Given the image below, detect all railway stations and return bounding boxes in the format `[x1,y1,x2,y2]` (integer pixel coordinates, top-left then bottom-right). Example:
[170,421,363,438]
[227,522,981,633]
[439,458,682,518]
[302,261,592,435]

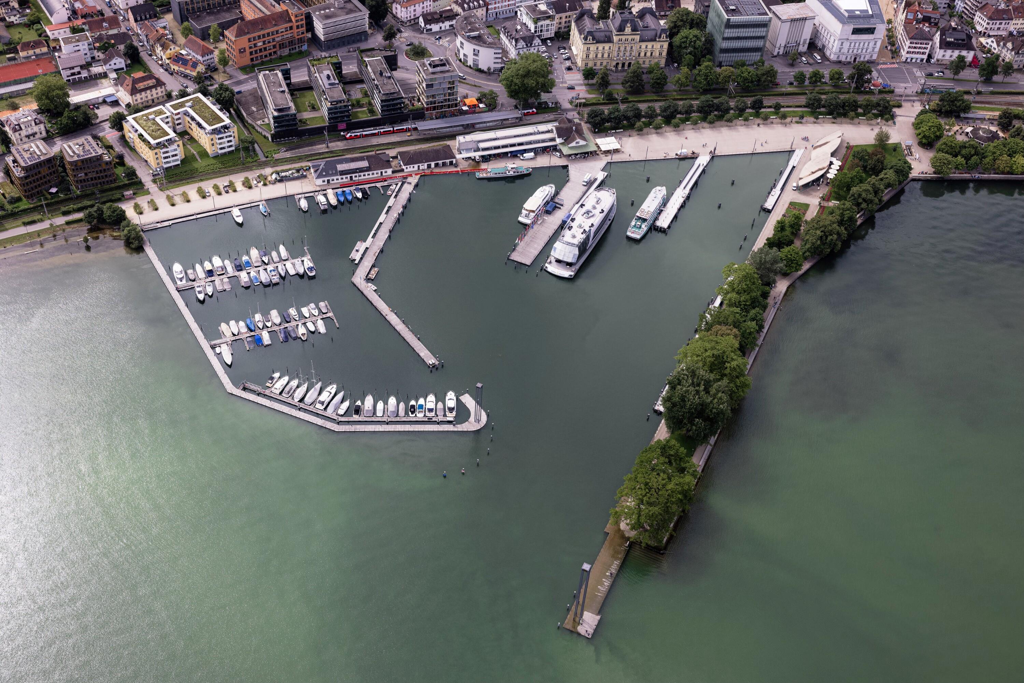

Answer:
[273,108,555,160]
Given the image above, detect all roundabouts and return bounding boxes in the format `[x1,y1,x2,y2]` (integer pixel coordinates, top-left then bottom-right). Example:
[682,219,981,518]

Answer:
[389,37,449,69]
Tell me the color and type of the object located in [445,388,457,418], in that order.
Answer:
white boat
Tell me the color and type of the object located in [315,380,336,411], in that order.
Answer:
white boat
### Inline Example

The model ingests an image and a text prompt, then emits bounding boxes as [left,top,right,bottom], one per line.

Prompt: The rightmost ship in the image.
[628,186,665,240]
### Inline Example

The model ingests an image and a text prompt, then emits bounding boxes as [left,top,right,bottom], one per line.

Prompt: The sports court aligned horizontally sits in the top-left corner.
[0,45,59,83]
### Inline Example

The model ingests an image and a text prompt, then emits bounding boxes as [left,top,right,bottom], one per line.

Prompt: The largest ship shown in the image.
[545,185,615,278]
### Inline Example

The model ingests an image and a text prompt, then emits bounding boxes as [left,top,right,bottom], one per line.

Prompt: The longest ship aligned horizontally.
[475,163,532,179]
